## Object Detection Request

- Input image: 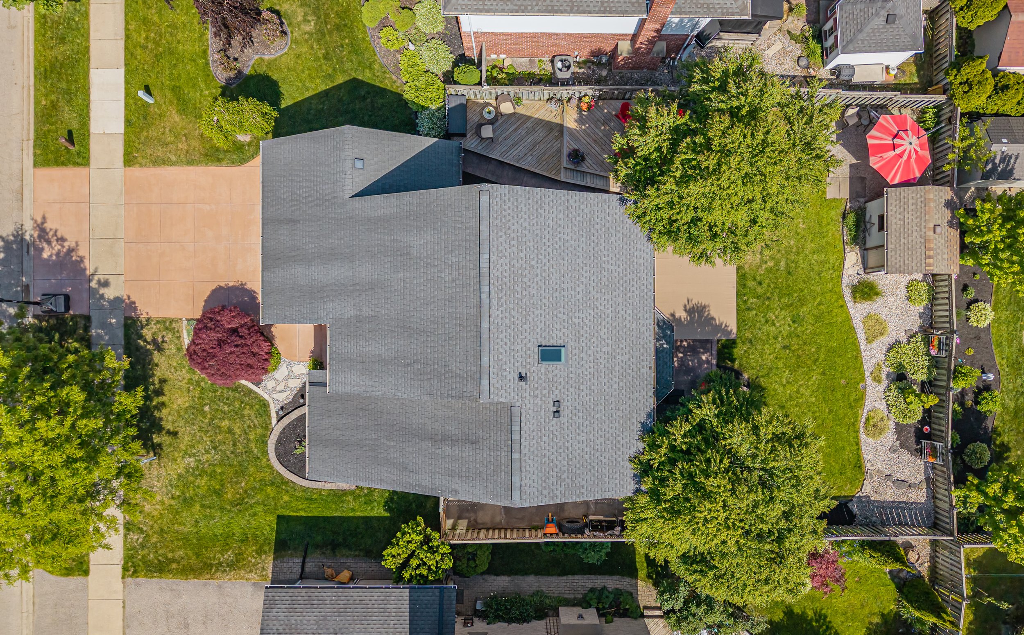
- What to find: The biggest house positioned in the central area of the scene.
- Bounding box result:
[258,127,675,508]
